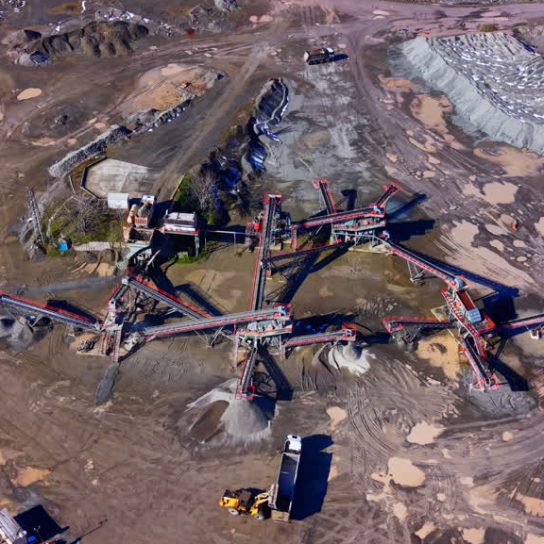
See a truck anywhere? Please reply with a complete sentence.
Yes, I can see a truck in this picture.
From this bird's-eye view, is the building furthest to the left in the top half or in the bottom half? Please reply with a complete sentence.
It is in the bottom half that the building furthest to the left appears.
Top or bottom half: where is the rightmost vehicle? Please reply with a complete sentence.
The rightmost vehicle is in the top half of the image.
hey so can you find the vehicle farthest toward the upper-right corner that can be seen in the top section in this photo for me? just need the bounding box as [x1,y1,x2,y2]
[304,46,335,66]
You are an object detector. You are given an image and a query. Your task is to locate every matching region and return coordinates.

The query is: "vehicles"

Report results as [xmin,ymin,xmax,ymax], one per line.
[217,490,281,522]
[270,437,303,520]
[304,46,335,66]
